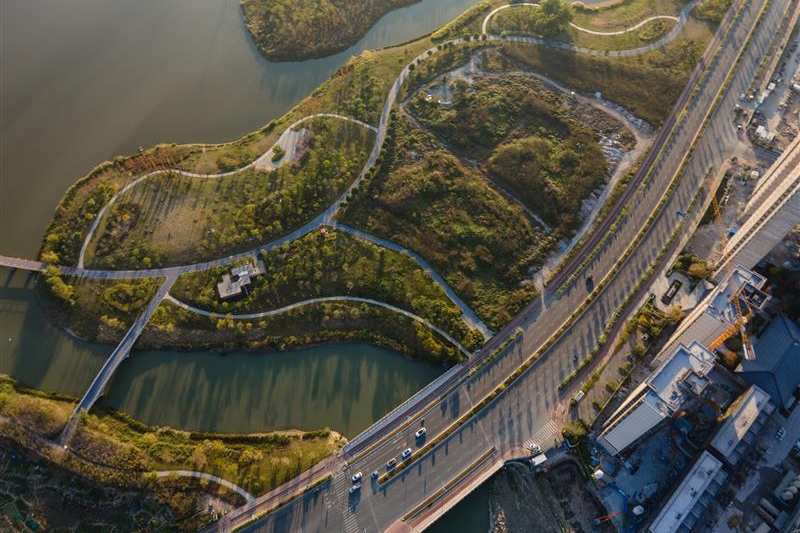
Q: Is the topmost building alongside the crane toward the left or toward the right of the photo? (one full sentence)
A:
The topmost building alongside the crane is on the right side of the image.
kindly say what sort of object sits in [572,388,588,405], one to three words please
vehicle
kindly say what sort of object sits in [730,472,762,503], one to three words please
shed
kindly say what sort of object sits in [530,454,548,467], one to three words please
vehicle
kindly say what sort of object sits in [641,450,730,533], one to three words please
building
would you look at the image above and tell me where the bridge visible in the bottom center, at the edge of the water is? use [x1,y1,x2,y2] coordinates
[339,365,504,533]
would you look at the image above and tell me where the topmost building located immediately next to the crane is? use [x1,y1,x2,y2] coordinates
[711,130,800,278]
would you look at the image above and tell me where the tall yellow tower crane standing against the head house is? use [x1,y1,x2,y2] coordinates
[709,284,759,363]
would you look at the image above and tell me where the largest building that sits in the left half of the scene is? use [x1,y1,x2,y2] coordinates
[217,261,268,301]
